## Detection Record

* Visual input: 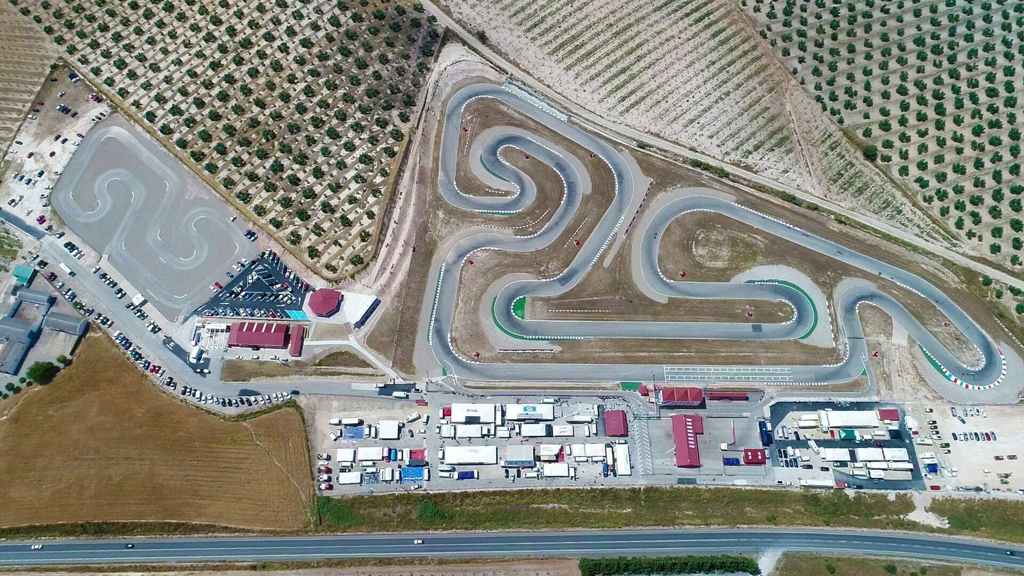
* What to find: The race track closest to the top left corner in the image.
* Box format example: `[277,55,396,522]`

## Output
[55,122,255,308]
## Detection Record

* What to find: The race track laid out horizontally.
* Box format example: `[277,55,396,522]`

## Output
[431,84,1000,386]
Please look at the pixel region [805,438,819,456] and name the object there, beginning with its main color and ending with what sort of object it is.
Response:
white camper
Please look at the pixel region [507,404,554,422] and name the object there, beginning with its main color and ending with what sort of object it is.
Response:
white tent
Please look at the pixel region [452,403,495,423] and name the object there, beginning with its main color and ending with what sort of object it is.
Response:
white tent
